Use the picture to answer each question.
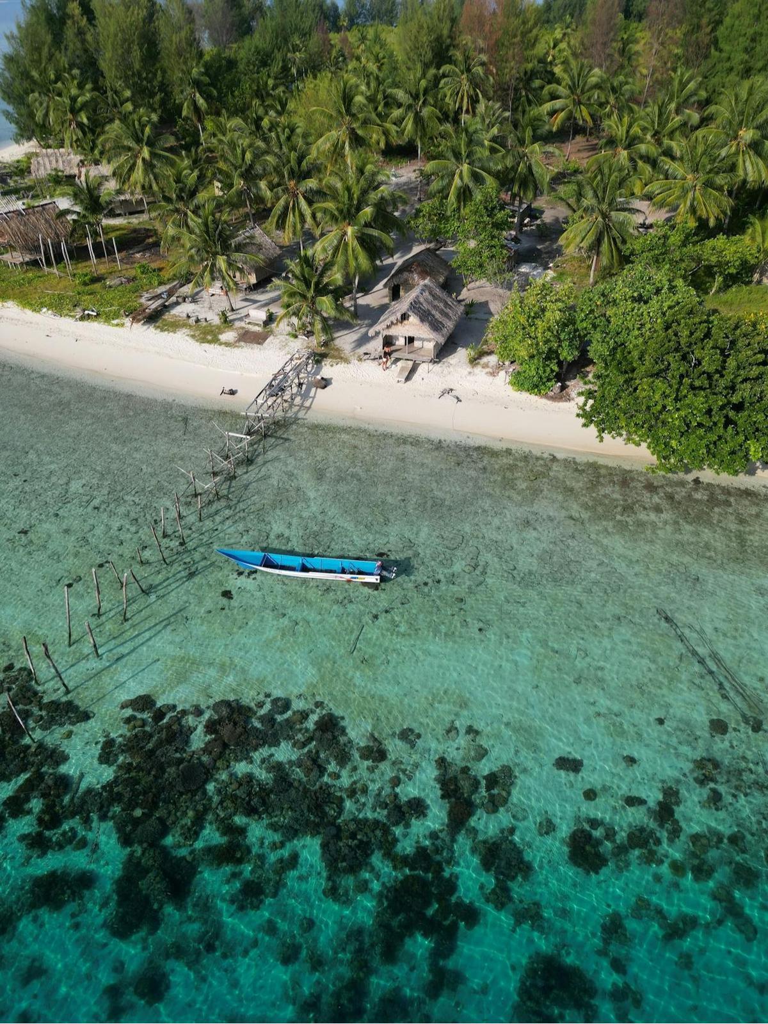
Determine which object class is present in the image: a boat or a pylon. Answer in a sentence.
There is a boat in the scene.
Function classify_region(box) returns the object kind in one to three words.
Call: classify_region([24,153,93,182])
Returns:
shed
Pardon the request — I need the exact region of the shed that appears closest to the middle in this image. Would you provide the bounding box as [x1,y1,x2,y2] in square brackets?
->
[369,279,466,375]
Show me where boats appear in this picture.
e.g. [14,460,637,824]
[216,549,397,586]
